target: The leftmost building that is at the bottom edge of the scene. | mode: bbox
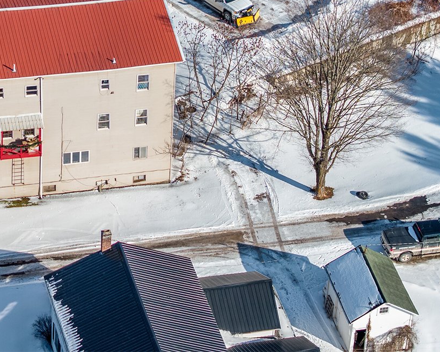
[43,233,229,352]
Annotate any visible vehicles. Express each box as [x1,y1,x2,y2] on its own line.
[192,0,251,21]
[380,220,440,263]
